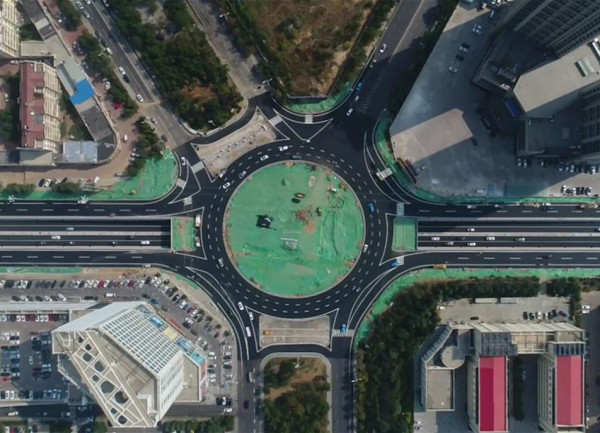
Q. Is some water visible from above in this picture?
No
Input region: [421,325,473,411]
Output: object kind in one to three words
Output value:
building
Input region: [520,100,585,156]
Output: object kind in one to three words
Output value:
building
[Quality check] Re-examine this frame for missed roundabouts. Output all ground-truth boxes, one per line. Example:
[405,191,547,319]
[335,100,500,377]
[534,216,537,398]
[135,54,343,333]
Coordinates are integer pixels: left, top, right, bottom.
[201,138,387,321]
